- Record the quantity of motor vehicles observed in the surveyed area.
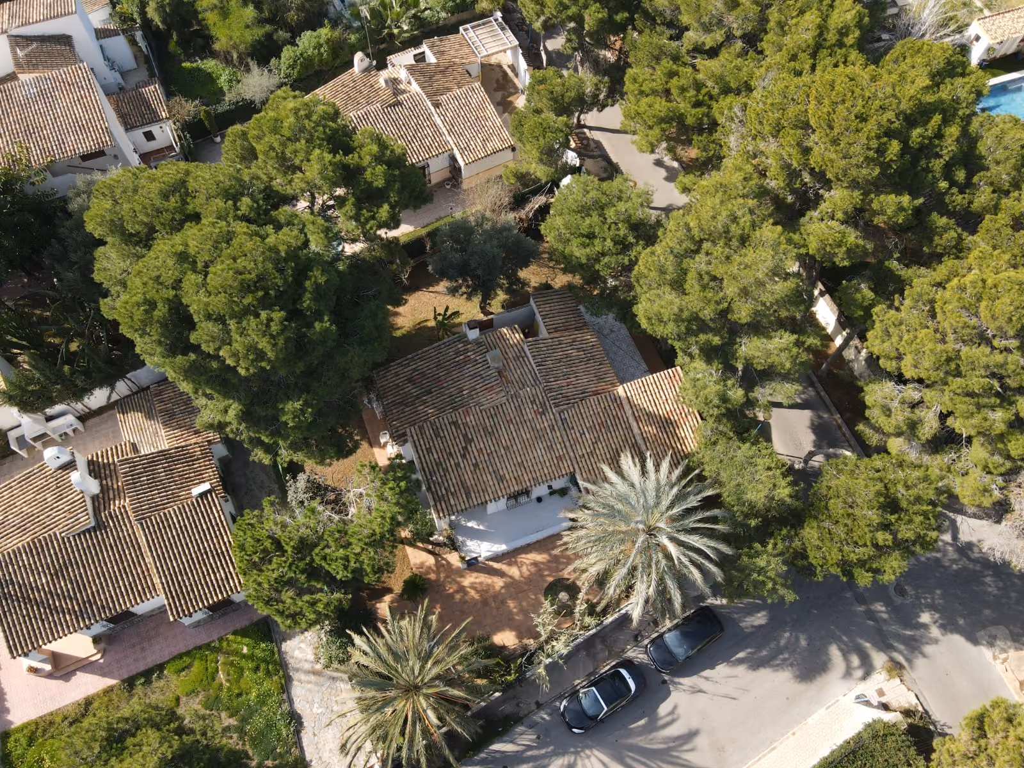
2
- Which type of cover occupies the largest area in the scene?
trees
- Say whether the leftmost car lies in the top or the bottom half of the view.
bottom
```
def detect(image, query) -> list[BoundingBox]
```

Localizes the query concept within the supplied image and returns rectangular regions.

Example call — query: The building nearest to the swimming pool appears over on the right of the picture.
[960,1,1024,69]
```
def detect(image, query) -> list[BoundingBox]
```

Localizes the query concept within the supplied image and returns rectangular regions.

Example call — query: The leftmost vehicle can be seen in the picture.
[560,656,649,735]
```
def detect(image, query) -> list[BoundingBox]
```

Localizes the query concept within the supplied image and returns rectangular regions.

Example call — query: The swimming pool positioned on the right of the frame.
[972,78,1024,128]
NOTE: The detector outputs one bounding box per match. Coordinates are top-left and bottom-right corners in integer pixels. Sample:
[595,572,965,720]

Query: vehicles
[645,600,728,674]
[560,656,649,735]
